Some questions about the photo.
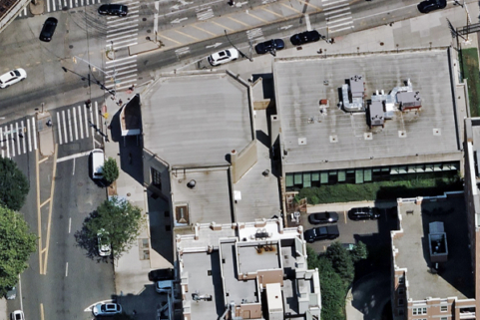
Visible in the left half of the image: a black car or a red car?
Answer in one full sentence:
The one visible in the left half of the image is a black car.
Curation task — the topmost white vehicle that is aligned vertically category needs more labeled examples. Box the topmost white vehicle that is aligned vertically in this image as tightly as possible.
[89,149,104,184]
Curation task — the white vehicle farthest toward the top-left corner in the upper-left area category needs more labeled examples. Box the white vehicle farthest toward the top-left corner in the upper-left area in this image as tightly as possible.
[0,68,28,89]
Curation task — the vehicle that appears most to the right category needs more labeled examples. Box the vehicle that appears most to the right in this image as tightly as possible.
[416,0,448,14]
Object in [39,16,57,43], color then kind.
black car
